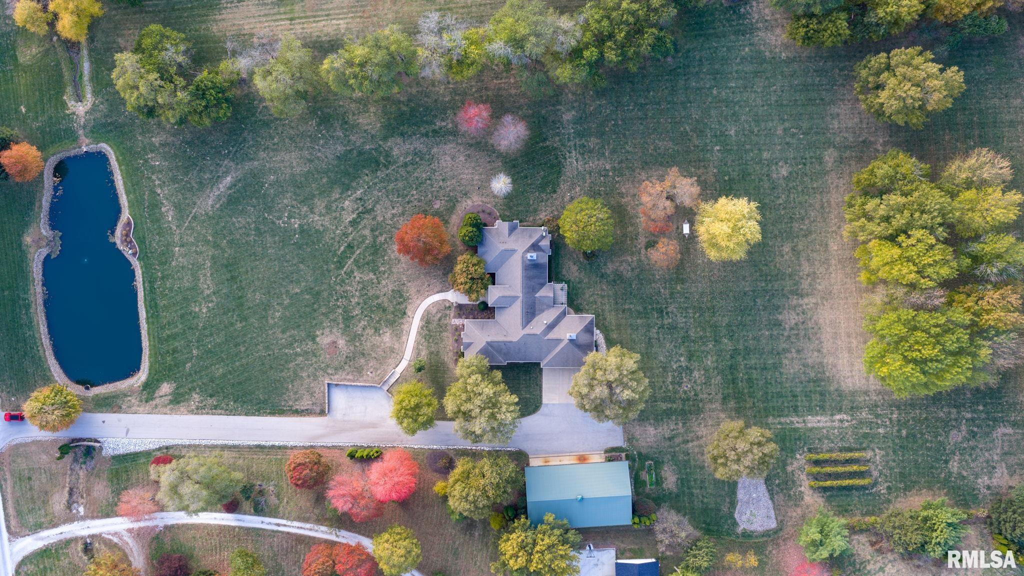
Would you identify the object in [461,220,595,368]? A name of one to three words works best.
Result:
house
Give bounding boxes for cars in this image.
[4,411,27,423]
